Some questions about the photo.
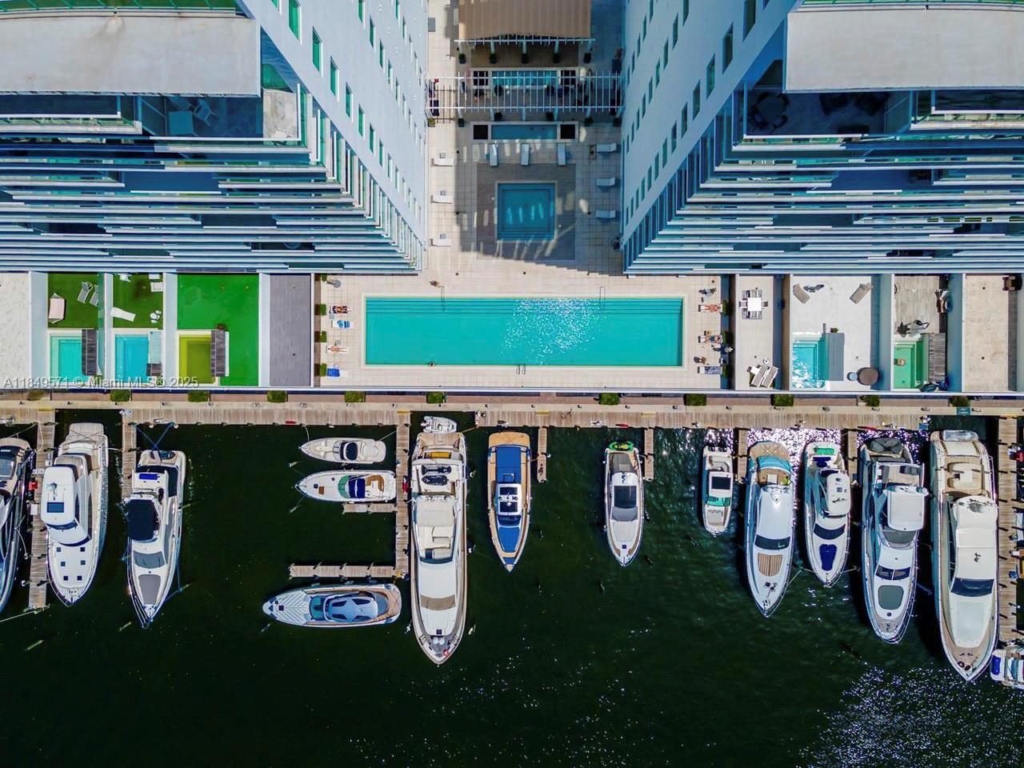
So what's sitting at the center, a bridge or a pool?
pool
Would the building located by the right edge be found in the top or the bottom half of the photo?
top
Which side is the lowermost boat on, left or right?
right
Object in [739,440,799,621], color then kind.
white boat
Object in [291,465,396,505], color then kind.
white boat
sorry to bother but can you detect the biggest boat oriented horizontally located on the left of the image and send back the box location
[261,578,405,628]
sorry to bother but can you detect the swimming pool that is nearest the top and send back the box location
[491,70,557,86]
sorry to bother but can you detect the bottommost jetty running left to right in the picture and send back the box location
[290,565,396,577]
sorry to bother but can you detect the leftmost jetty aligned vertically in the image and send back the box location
[28,425,60,608]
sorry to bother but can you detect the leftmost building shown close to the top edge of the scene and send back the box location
[0,0,428,270]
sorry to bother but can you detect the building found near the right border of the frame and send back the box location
[623,0,1024,272]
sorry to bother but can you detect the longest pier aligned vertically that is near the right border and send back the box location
[992,414,1019,644]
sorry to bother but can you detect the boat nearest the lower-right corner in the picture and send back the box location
[989,647,1024,688]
